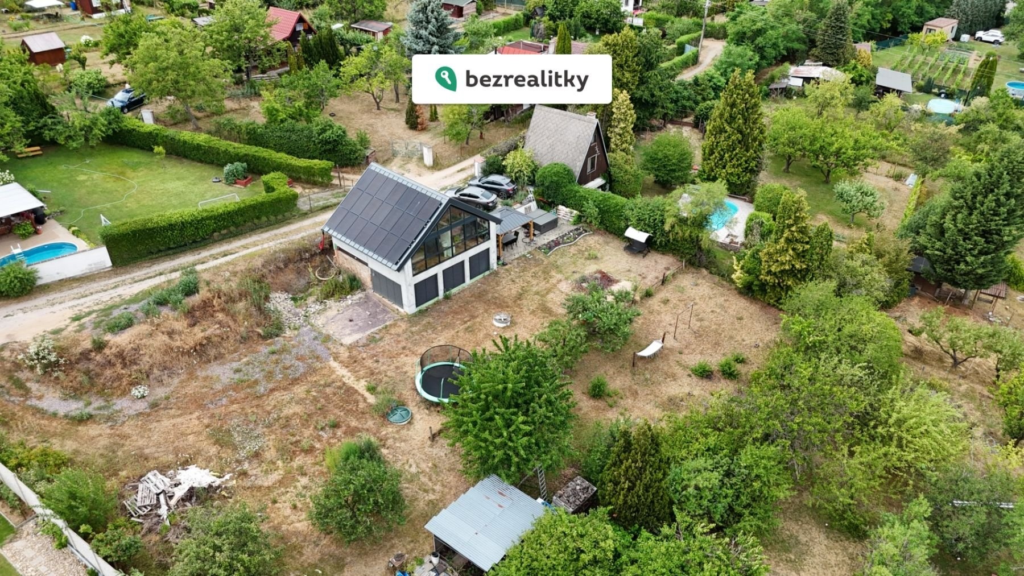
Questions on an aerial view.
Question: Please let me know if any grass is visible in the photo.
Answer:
Yes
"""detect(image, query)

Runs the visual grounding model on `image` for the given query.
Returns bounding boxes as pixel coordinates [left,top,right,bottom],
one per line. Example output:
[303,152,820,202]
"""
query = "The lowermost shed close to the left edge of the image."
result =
[17,28,65,63]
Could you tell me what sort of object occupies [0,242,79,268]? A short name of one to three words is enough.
swimming pool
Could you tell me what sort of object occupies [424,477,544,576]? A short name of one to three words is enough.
shed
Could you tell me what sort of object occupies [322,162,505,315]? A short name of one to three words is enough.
house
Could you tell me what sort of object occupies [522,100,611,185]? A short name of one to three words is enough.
house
